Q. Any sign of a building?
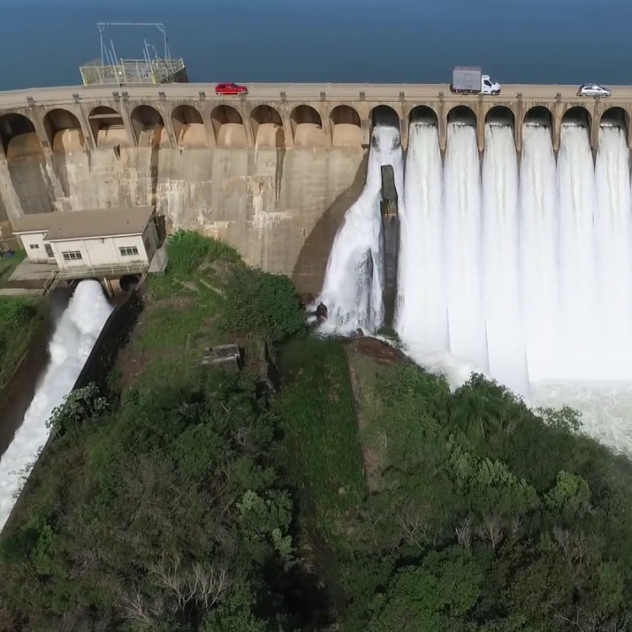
Yes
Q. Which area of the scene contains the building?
left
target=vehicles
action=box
[215,80,251,95]
[452,67,502,97]
[575,82,610,98]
